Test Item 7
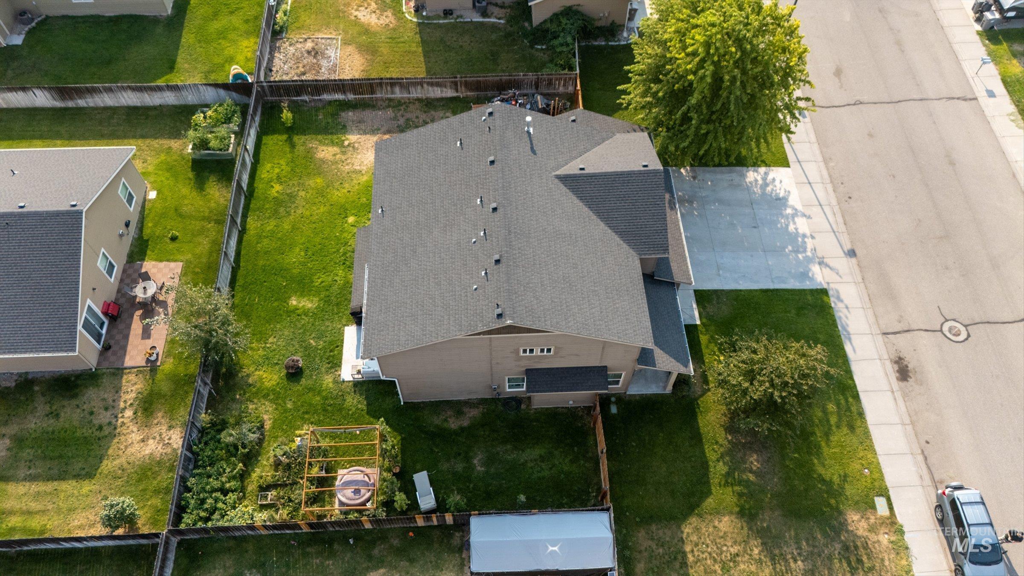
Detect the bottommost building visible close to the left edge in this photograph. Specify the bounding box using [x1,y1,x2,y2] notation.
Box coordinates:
[0,147,146,373]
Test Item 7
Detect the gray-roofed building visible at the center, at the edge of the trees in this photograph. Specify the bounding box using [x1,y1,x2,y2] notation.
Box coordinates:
[350,101,695,408]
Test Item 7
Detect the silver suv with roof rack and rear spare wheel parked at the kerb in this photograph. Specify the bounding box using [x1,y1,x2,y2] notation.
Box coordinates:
[930,480,1009,576]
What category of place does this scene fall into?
residential area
